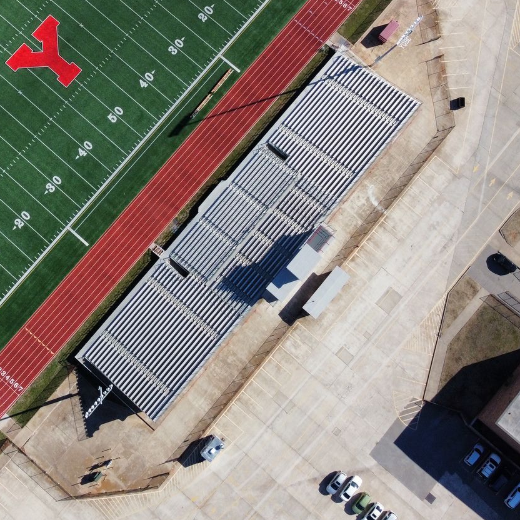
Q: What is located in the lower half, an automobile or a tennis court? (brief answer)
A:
automobile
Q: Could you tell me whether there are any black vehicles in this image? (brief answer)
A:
Yes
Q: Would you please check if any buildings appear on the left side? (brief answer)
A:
No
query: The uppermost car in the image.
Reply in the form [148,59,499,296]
[493,252,520,275]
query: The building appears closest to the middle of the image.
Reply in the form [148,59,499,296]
[302,266,350,319]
